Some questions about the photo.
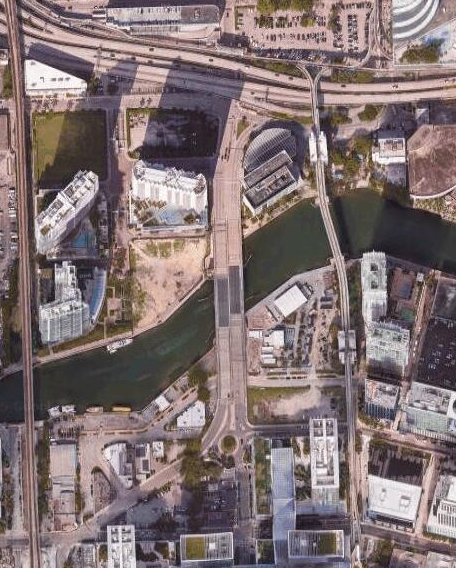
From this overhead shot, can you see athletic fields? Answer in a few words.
Yes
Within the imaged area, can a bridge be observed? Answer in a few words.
Yes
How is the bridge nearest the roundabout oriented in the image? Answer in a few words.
from top to bottom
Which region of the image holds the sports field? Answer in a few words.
top left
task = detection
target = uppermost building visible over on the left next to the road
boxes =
[99,5,221,43]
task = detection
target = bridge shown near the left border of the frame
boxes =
[7,0,40,568]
